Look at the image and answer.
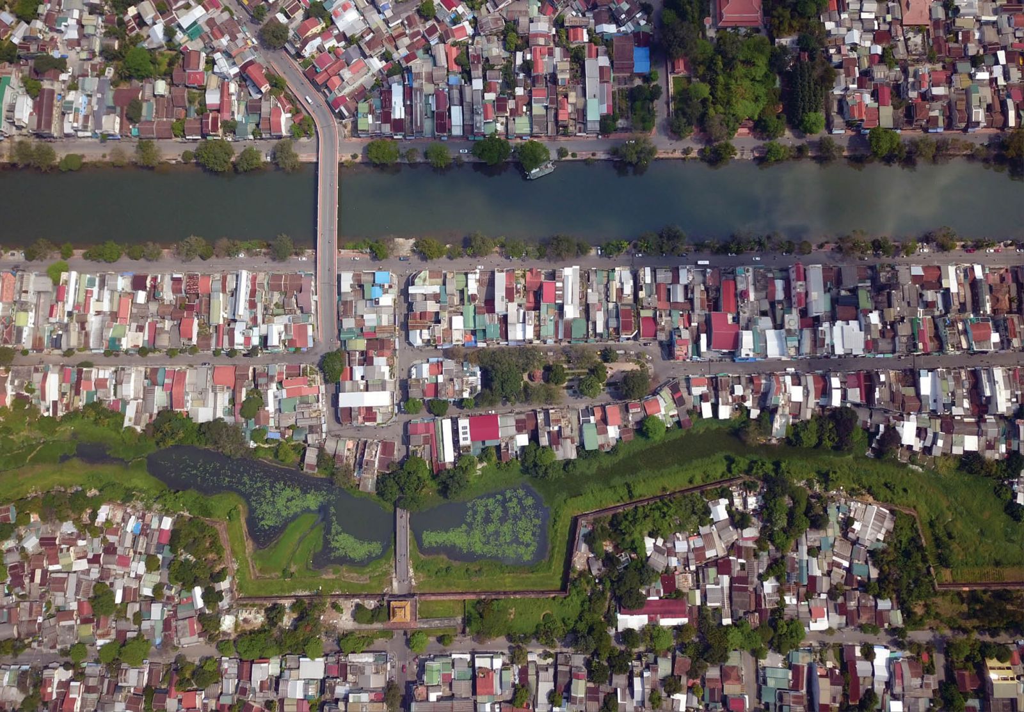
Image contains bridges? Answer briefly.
Yes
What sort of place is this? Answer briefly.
residential area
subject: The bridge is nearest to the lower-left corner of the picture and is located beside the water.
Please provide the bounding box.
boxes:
[393,496,411,591]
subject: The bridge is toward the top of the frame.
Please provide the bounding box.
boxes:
[264,41,338,345]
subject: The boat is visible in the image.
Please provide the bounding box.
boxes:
[524,163,555,180]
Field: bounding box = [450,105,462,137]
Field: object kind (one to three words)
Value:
house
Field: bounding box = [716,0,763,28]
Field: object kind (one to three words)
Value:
building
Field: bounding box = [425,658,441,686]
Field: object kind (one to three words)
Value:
house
